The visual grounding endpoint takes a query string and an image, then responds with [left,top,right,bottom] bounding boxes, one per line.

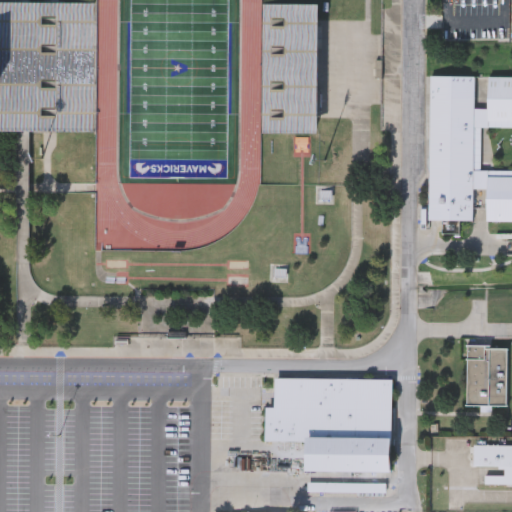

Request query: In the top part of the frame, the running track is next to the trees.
[97,0,262,250]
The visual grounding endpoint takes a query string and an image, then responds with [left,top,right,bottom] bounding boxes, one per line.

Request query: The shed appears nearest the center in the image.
[270,264,288,282]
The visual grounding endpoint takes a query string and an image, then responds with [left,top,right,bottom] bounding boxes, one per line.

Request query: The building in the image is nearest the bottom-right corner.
[471,445,512,486]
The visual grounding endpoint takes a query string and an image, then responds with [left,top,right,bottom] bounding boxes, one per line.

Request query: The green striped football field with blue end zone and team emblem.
[120,0,238,184]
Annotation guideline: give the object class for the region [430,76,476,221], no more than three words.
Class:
building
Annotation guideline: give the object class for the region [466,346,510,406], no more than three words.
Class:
building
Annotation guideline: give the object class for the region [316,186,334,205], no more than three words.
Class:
shed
